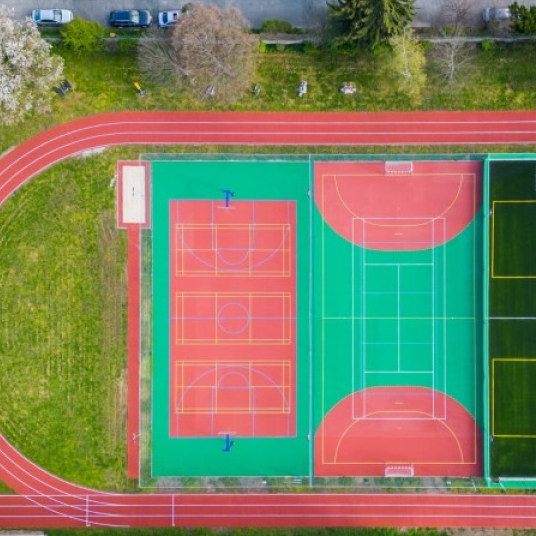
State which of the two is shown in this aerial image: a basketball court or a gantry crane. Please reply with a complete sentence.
This aerial view contains a basketball court.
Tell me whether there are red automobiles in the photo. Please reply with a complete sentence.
No, no red automobile is visible in the scene.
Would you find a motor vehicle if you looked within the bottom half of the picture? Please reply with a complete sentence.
No, no motor vehicle can be made out within the bottom half of the picture.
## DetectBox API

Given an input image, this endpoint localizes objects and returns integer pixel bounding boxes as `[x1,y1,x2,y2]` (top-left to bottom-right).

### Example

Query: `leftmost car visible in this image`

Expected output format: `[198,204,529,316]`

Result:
[31,7,72,28]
